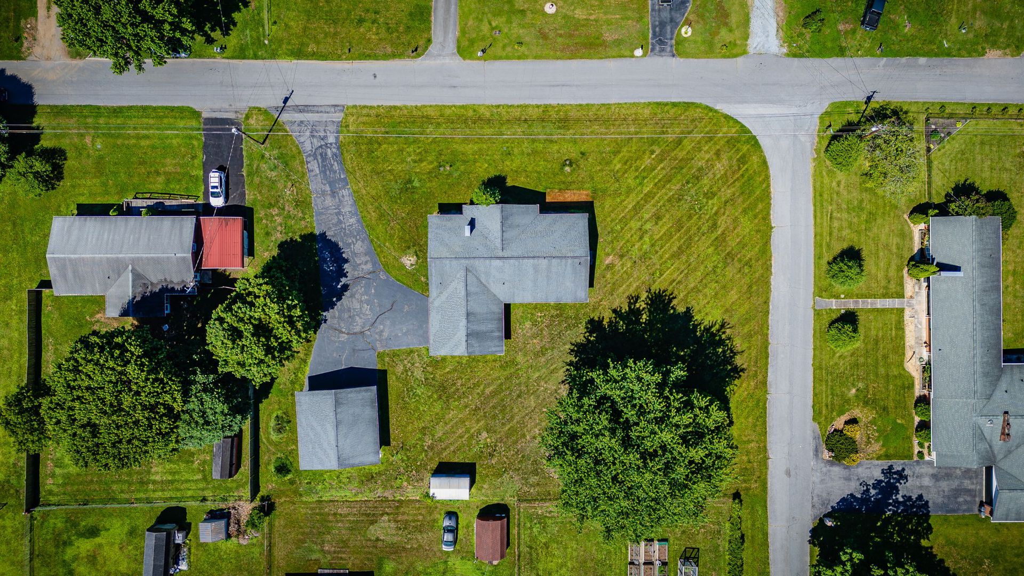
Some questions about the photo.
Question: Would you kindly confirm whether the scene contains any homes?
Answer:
Yes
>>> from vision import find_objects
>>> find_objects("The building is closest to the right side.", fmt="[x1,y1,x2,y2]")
[921,215,1024,522]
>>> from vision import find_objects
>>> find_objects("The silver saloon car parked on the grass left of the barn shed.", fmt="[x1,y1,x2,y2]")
[441,512,458,552]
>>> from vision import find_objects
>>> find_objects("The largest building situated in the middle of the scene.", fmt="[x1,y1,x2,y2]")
[426,203,590,356]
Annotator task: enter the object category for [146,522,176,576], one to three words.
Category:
shed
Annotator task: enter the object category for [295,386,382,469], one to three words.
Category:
building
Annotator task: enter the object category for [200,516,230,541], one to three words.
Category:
shed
